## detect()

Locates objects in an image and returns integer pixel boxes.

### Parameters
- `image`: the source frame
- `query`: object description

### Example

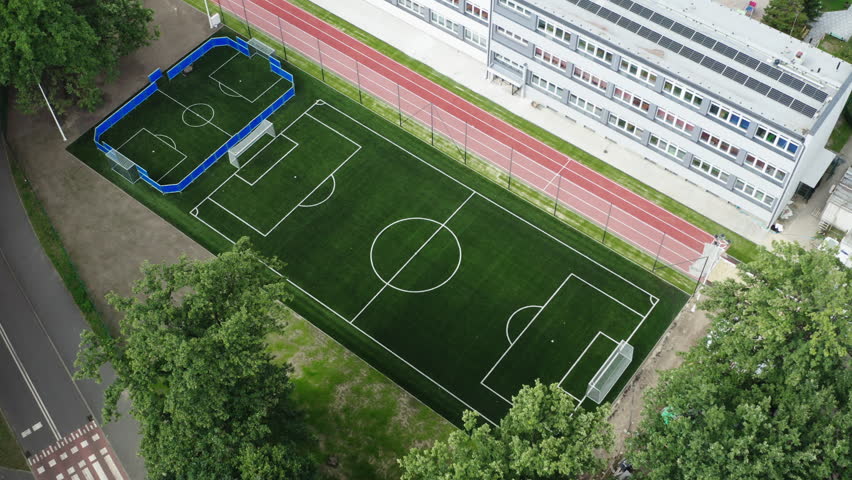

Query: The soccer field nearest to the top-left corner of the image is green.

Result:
[62,24,317,215]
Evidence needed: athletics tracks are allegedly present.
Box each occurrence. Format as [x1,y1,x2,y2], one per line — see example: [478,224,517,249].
[210,0,722,280]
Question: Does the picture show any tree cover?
Yes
